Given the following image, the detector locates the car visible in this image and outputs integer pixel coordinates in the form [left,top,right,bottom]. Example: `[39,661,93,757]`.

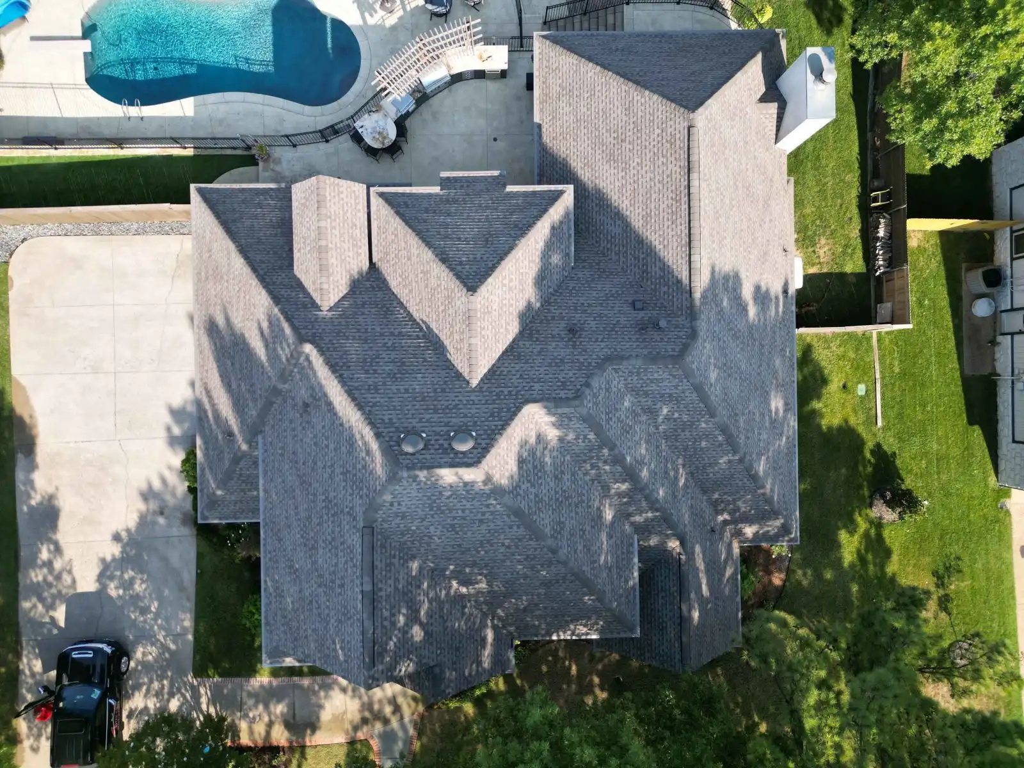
[33,634,127,768]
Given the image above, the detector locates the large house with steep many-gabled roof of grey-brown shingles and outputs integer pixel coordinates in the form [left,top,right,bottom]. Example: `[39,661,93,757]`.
[189,27,835,710]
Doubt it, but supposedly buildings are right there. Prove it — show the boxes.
[988,139,1024,505]
[189,27,835,710]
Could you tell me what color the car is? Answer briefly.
black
